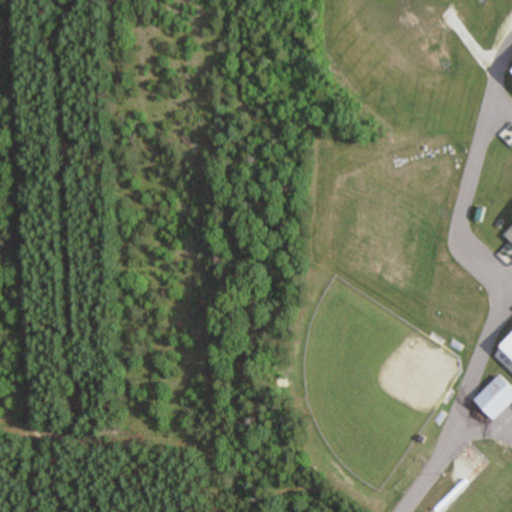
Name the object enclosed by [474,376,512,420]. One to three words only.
house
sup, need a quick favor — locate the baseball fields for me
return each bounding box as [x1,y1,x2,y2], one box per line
[304,278,463,490]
